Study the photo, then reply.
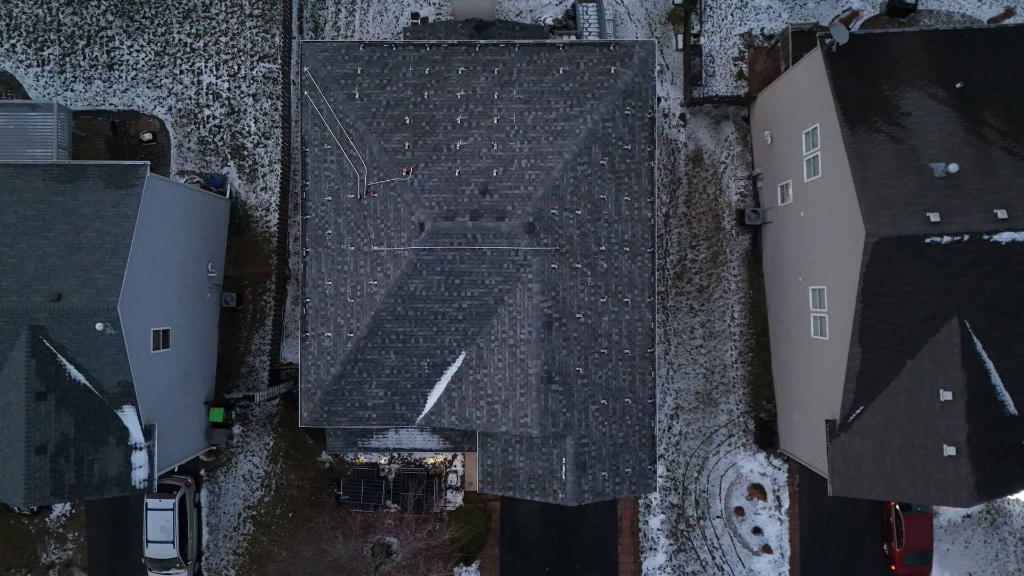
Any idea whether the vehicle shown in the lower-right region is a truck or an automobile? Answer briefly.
automobile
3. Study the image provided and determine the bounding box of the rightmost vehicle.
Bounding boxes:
[877,496,937,574]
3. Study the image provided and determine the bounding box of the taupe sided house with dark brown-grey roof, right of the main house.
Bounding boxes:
[748,28,1024,503]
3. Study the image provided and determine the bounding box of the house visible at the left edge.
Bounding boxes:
[0,157,233,507]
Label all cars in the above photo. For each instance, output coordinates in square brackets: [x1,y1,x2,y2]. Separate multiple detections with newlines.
[877,496,937,574]
[142,472,202,576]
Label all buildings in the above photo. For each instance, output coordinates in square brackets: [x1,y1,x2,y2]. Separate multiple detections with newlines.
[301,40,656,507]
[748,28,1024,503]
[0,157,233,507]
